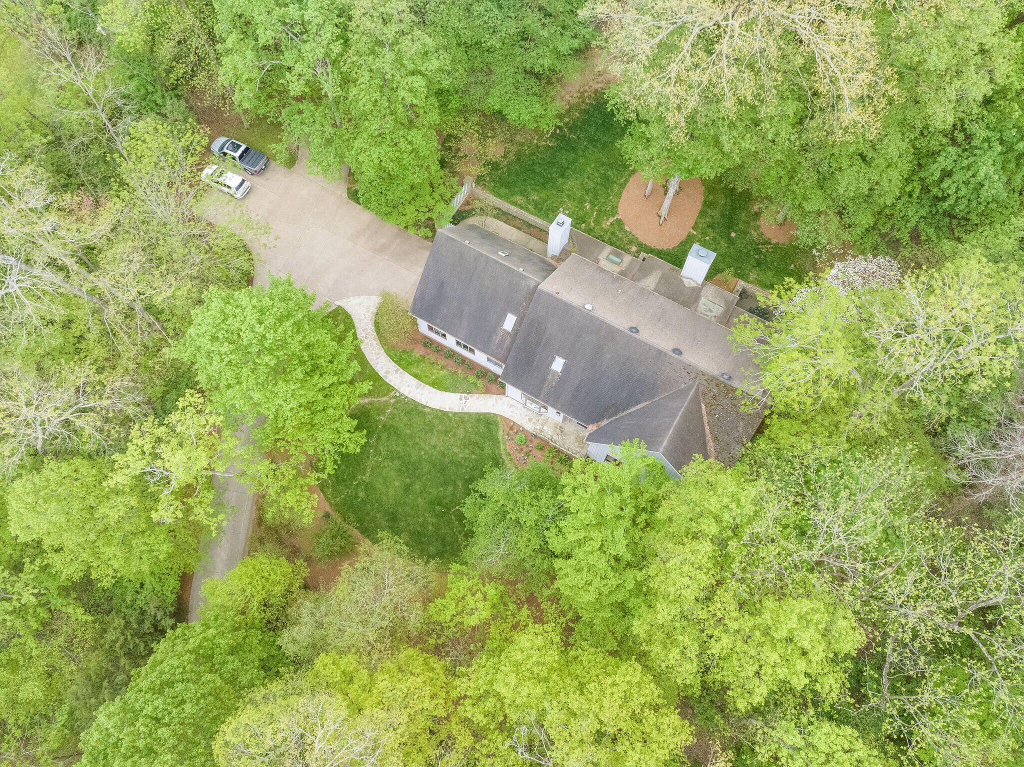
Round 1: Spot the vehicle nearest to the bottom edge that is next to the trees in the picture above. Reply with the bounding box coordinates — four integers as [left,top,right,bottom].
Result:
[198,170,250,205]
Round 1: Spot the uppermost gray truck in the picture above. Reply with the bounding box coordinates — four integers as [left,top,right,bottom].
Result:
[209,134,272,177]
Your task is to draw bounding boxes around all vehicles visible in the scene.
[198,170,250,205]
[209,134,272,177]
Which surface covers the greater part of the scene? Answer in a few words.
trees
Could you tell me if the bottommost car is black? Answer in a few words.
No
